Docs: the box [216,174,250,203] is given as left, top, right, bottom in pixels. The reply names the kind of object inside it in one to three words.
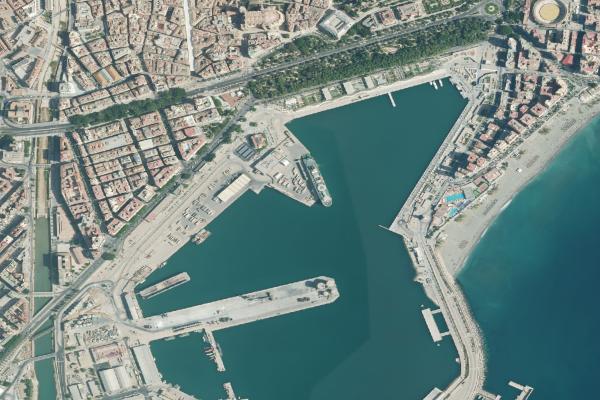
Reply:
building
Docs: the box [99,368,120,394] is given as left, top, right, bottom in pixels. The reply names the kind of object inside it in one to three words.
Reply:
building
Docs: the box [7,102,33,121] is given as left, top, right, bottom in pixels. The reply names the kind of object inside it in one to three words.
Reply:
house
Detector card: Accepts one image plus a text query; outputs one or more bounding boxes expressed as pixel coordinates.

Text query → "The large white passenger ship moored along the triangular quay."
[304,153,333,208]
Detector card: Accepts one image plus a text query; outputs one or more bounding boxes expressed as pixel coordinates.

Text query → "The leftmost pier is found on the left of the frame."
[135,271,190,300]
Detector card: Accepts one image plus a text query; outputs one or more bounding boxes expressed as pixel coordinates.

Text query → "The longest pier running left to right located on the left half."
[140,275,339,344]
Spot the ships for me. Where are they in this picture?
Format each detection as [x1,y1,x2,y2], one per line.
[193,231,210,244]
[304,153,333,208]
